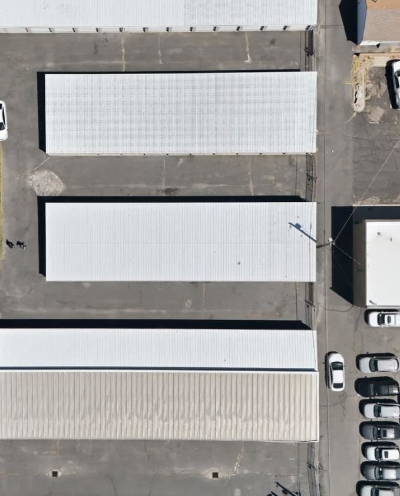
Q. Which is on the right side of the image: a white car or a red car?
white car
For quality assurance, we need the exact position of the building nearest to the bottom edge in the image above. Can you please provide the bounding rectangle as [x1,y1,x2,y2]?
[0,328,318,441]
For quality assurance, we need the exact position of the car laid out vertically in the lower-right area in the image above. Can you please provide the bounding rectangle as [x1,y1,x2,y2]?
[327,352,346,391]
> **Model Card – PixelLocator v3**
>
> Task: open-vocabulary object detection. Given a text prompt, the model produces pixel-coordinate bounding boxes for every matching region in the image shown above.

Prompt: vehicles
[360,461,400,481]
[363,402,400,420]
[368,311,400,328]
[327,352,346,391]
[364,444,400,463]
[392,62,400,111]
[0,98,8,141]
[359,483,400,496]
[361,423,400,442]
[359,356,399,375]
[358,378,399,398]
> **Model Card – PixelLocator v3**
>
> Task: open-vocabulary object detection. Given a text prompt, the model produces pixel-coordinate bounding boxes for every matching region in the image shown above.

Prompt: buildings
[0,328,318,441]
[353,222,400,308]
[358,0,400,44]
[0,0,317,35]
[45,72,317,158]
[45,202,316,281]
